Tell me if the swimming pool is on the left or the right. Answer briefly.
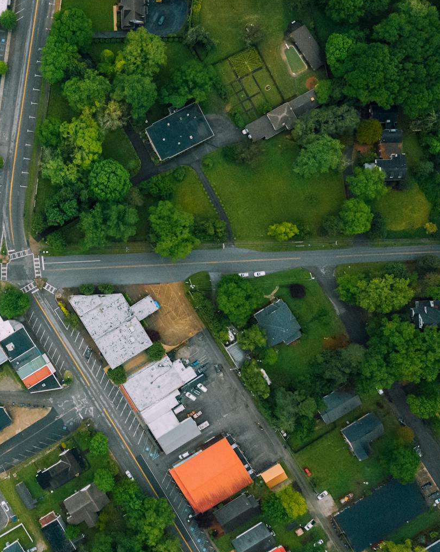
right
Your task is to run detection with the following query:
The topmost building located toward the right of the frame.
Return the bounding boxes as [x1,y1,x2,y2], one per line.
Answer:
[291,25,324,70]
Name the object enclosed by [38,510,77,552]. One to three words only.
house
